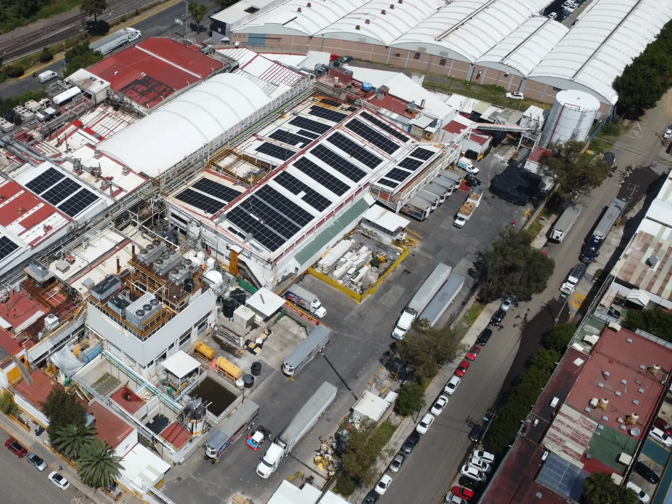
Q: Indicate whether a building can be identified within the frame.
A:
Yes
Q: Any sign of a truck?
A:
Yes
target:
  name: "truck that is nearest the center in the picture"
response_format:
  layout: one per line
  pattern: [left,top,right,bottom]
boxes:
[286,284,326,320]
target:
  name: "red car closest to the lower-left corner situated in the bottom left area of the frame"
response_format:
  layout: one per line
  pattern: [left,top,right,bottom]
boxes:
[5,437,28,459]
